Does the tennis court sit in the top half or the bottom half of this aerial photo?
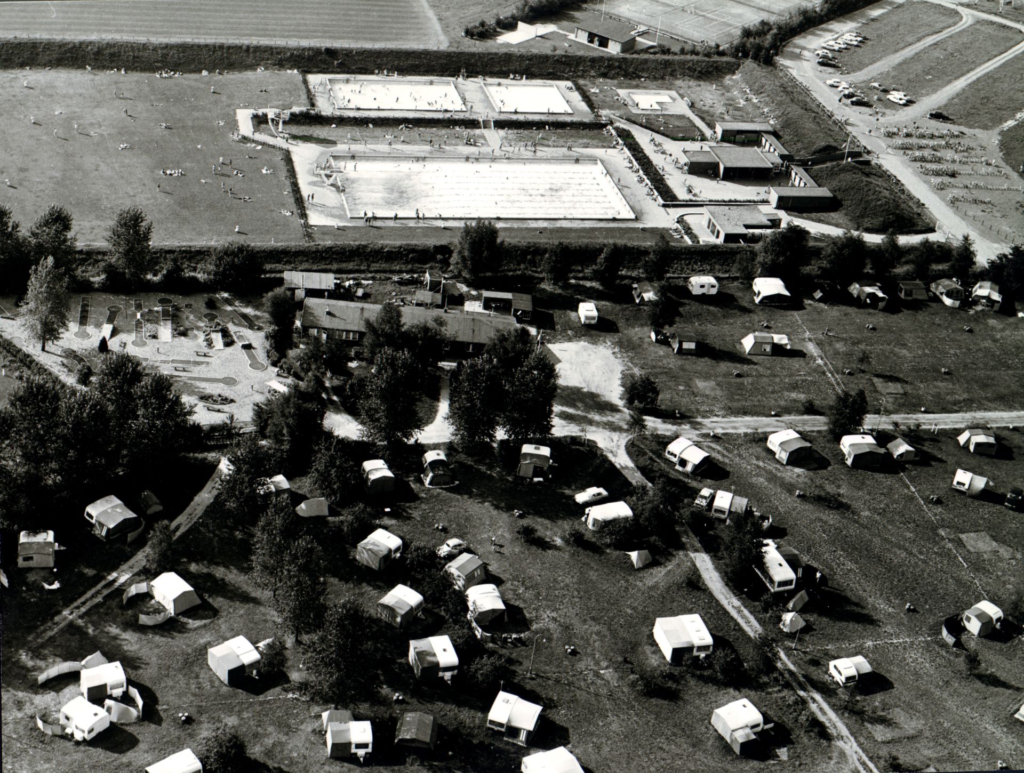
top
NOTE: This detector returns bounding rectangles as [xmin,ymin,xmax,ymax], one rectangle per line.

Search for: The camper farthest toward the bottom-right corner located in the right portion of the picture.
[976,604,1003,637]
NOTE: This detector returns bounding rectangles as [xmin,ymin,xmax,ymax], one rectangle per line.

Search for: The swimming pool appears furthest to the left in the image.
[326,75,467,112]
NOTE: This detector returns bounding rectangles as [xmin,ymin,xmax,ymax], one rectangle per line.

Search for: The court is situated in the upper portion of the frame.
[592,0,815,44]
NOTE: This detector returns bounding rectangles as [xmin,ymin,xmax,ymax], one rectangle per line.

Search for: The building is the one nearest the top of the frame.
[575,21,639,54]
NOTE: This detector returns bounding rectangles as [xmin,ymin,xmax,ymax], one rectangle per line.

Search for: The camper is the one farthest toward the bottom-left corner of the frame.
[71,706,109,745]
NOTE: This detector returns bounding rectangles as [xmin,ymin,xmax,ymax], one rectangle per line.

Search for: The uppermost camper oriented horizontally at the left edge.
[19,531,64,555]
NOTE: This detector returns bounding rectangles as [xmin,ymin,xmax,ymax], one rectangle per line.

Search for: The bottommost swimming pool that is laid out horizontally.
[331,151,635,221]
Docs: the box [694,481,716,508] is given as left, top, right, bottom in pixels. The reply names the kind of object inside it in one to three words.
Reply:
car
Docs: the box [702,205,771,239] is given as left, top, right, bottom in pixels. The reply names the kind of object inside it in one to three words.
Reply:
building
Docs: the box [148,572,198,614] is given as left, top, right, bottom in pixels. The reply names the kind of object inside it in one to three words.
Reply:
tent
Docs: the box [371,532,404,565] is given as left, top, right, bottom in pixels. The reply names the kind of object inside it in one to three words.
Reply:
camper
